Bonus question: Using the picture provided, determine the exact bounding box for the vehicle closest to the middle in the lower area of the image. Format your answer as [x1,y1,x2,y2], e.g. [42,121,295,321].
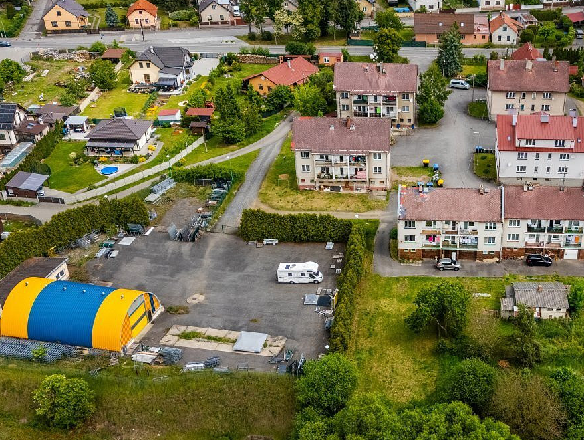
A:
[275,264,323,287]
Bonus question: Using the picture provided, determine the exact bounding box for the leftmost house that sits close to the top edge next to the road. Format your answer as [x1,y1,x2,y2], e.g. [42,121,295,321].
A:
[40,0,89,30]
